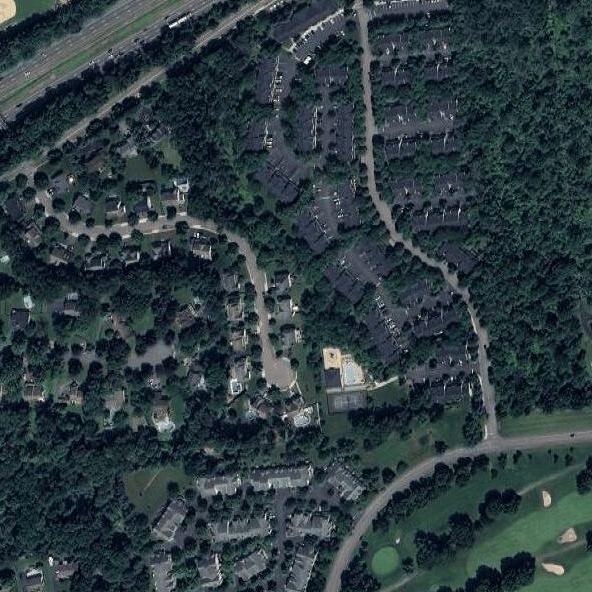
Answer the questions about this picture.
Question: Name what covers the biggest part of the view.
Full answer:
What you mostly see from above here is trees.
